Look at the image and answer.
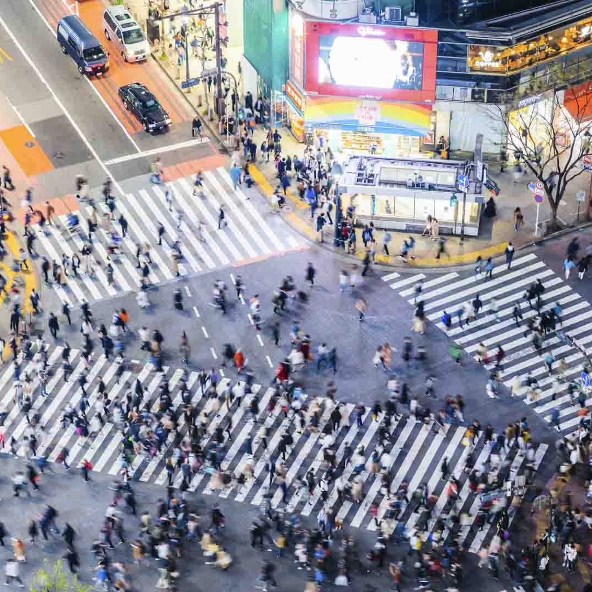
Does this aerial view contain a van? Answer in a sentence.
Yes, a van appears in the view.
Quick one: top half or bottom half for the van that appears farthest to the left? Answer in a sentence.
The van that appears farthest to the left is in the top half of the image.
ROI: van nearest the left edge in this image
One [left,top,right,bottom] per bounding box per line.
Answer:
[54,8,110,77]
